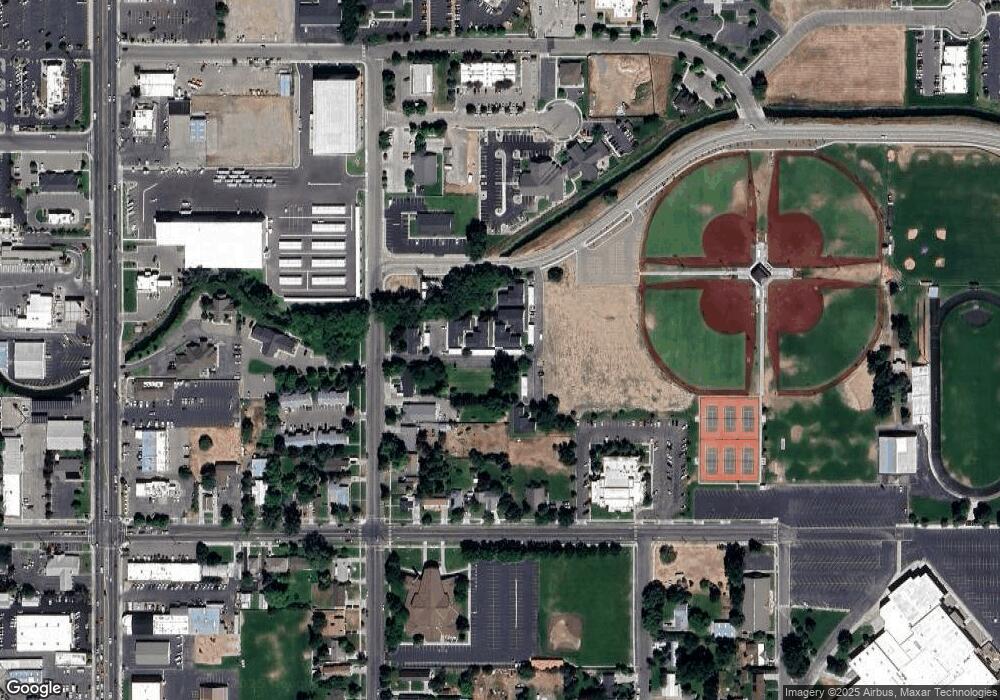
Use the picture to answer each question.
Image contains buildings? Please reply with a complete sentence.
Yes, looking at the shot, I can spot a building.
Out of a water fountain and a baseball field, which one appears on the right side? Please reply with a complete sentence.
You can see a baseball field on the right side.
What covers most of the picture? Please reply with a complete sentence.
For the most part, this view shows paved ground.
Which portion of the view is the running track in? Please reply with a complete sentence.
The running track sits in the right section of the image.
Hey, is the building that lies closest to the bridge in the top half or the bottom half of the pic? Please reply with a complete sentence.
Seen from above, the building that lies closest to the bridge lies in the top half of the view.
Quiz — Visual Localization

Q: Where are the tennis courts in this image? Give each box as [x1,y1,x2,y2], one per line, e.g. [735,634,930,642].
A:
[742,406,754,432]
[706,406,718,432]
[742,447,754,474]
[707,447,718,474]
[725,447,735,474]
[724,406,735,432]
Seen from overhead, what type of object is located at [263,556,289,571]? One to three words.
house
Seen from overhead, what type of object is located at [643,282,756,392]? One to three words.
baseball field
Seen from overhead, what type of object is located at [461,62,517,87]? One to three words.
building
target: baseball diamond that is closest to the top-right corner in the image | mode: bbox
[769,154,881,266]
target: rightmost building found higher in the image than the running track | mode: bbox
[942,44,968,93]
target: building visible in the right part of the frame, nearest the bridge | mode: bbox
[670,84,696,109]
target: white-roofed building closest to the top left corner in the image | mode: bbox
[47,62,69,105]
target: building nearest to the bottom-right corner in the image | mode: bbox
[846,570,1000,700]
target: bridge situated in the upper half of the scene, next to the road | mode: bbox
[735,96,767,121]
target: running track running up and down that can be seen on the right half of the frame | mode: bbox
[930,288,1000,498]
